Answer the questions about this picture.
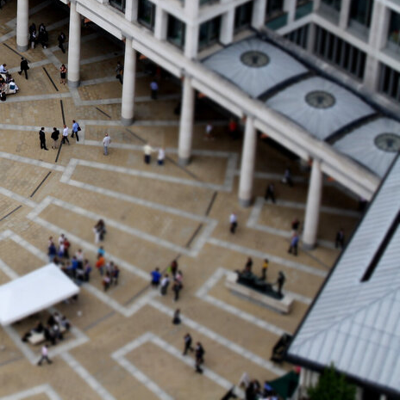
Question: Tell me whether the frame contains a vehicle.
No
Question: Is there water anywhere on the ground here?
No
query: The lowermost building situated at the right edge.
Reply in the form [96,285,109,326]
[285,157,400,400]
